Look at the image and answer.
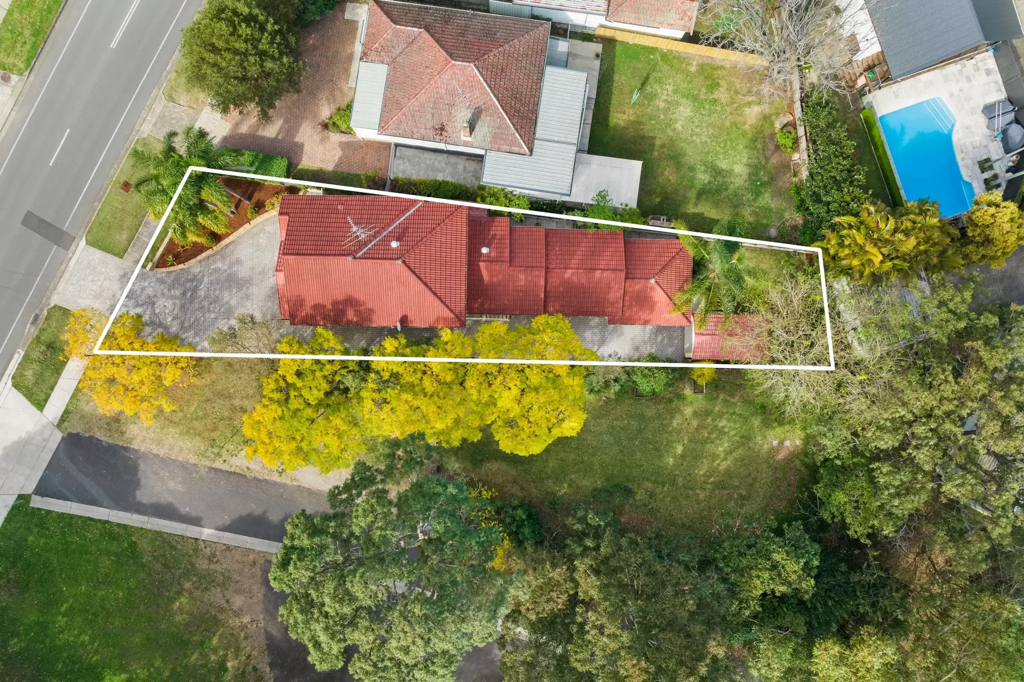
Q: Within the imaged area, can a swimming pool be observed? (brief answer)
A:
Yes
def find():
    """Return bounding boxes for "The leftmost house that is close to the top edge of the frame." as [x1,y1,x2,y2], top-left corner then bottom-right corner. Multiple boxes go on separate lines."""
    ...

[349,0,592,200]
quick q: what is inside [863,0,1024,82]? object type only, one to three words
building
